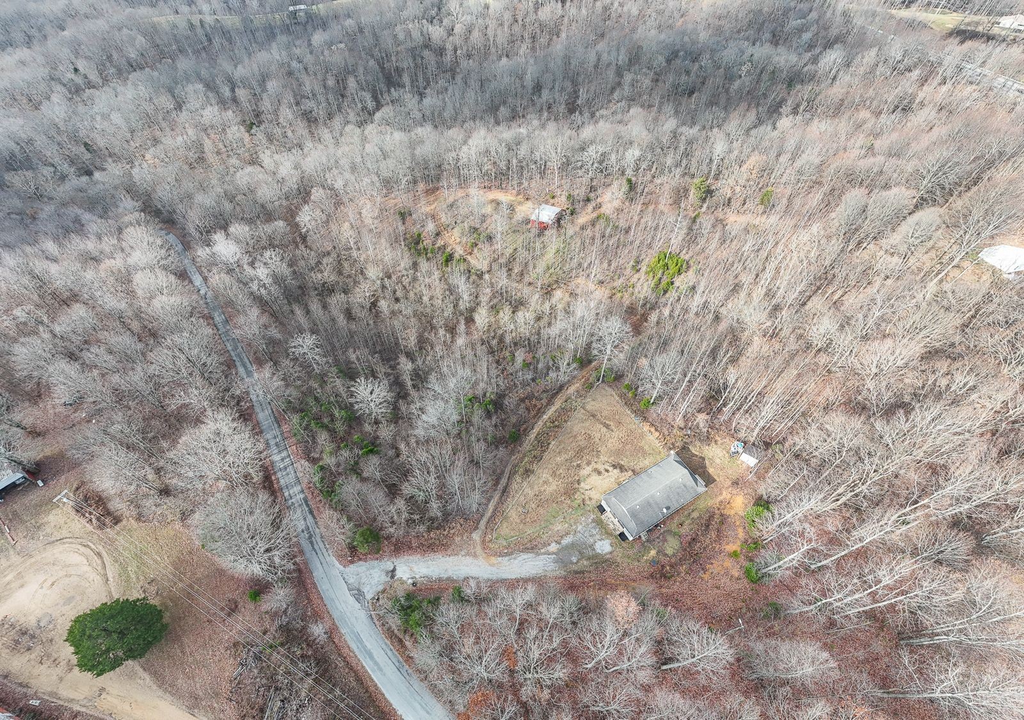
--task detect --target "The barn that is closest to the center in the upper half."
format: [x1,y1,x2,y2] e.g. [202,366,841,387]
[528,203,569,233]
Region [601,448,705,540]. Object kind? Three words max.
house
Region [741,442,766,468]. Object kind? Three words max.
shed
